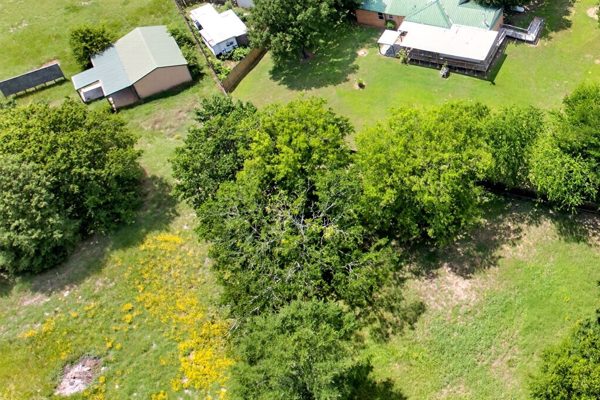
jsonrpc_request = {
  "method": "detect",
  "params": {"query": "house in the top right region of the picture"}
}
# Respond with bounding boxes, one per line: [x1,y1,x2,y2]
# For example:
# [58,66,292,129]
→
[359,0,548,76]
